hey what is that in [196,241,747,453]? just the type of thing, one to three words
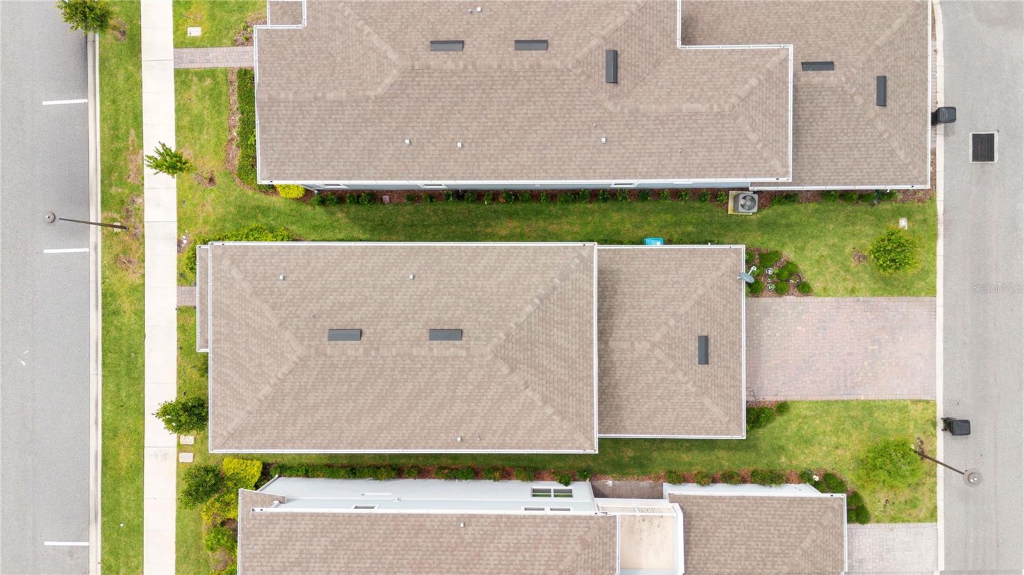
house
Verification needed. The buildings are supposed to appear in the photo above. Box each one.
[196,241,747,453]
[237,478,847,575]
[254,0,931,193]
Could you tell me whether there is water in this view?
No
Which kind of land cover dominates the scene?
buildings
